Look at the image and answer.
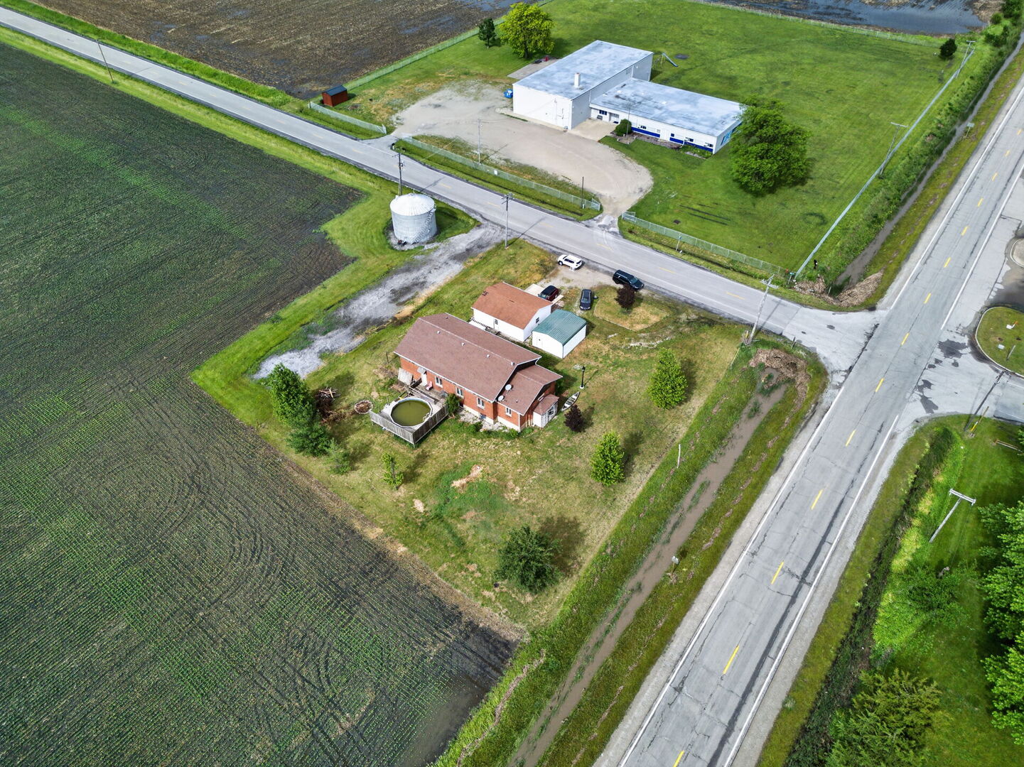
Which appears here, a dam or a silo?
silo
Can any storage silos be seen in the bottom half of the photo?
No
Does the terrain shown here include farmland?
Yes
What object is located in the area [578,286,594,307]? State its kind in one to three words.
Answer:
car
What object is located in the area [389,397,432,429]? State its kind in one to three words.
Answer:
swimming pool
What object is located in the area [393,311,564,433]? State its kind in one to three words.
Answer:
house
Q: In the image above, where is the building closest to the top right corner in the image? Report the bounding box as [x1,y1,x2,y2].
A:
[512,39,745,152]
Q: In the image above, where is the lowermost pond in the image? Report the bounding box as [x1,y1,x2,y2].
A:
[405,632,522,767]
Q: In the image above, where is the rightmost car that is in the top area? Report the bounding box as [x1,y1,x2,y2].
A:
[613,266,644,288]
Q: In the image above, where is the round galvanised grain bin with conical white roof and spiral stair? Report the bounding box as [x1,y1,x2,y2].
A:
[388,191,439,244]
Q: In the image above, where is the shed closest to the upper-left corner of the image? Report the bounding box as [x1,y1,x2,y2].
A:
[321,85,348,106]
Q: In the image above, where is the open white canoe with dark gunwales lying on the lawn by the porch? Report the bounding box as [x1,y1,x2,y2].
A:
[562,390,580,411]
